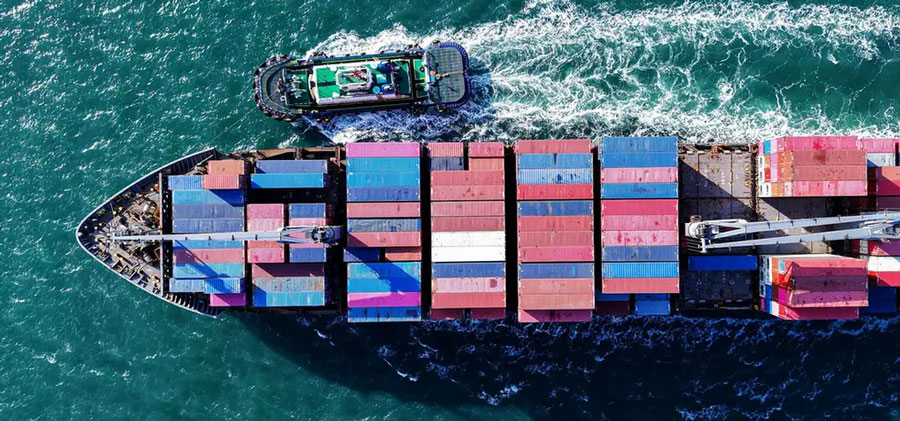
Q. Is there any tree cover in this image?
No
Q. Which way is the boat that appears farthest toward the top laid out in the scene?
from left to right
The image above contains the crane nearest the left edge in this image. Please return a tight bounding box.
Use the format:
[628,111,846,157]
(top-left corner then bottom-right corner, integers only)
[106,224,348,251]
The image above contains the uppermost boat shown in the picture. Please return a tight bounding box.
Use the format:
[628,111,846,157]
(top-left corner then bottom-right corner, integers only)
[251,43,471,120]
